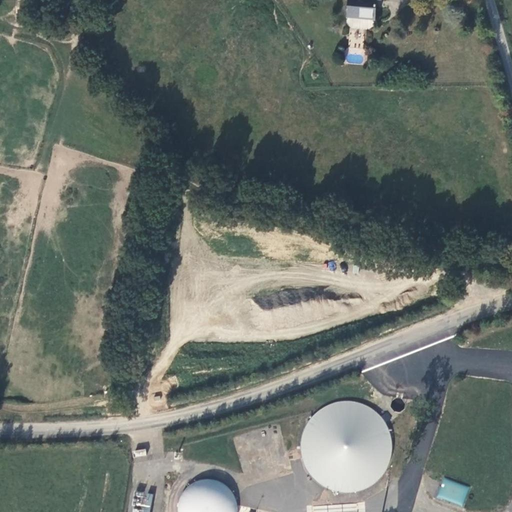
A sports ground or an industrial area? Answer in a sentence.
This looks like an industrial area.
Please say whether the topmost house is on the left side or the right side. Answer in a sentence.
It is on the right.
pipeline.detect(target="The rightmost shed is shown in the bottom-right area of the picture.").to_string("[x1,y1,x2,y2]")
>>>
[438,479,472,506]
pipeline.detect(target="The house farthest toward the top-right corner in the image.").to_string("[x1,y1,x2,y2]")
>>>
[347,0,377,30]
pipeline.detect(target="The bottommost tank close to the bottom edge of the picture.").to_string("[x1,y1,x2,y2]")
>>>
[178,480,238,512]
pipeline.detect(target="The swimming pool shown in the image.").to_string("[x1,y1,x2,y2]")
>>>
[344,49,368,66]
